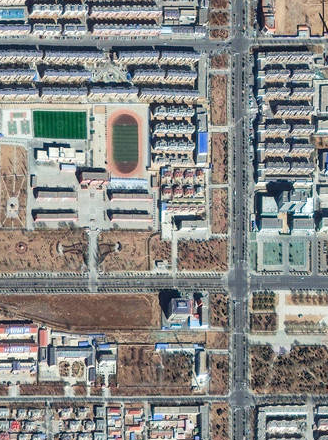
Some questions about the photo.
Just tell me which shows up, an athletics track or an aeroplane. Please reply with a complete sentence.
I can see an athletics track in this picture.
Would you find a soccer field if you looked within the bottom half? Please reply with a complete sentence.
No, there is no soccer field within the bottom half.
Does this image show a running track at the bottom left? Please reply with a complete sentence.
No, no running track can be made out at the bottom left.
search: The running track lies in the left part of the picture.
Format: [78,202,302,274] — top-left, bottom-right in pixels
[105,110,143,177]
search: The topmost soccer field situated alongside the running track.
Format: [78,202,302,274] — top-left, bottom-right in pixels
[32,110,87,139]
